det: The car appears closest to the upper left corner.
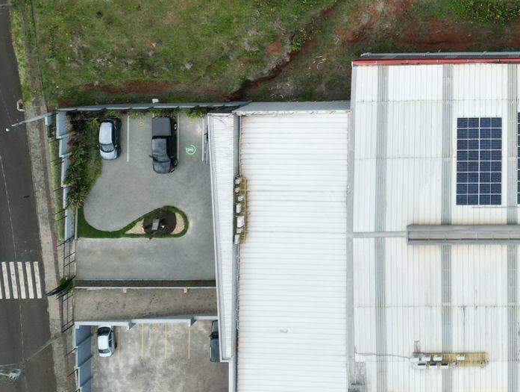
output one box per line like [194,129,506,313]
[97,119,121,160]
